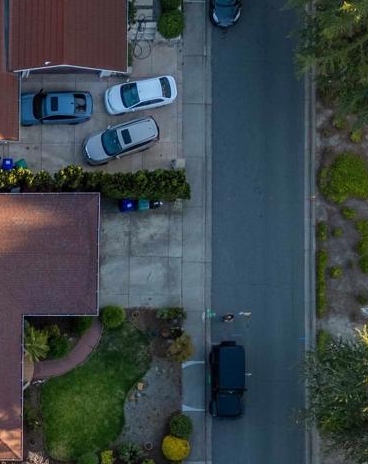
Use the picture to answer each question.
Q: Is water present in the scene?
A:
No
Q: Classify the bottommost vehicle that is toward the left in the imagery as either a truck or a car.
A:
car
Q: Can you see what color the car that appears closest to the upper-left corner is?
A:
blue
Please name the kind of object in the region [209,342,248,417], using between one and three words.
car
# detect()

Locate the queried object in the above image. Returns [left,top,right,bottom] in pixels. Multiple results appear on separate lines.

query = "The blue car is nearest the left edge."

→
[20,89,92,125]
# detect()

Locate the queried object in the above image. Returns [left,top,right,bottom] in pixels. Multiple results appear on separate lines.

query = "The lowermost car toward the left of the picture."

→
[84,116,163,165]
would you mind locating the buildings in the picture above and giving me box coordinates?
[0,0,129,141]
[0,192,101,461]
